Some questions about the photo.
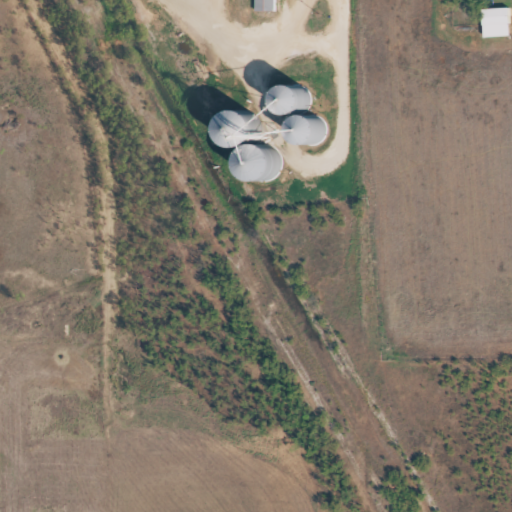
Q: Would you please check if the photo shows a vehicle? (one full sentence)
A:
No, the frame has no vehicle in it.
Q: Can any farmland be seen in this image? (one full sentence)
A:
Yes, some farmland is visible.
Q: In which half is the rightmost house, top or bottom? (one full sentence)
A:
The rightmost house sits in the top half of the picture.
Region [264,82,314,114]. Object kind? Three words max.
silo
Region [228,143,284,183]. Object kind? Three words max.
silo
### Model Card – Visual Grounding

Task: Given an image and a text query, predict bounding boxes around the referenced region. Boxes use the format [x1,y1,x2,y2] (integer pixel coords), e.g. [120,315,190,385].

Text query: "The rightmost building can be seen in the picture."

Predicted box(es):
[480,8,512,38]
